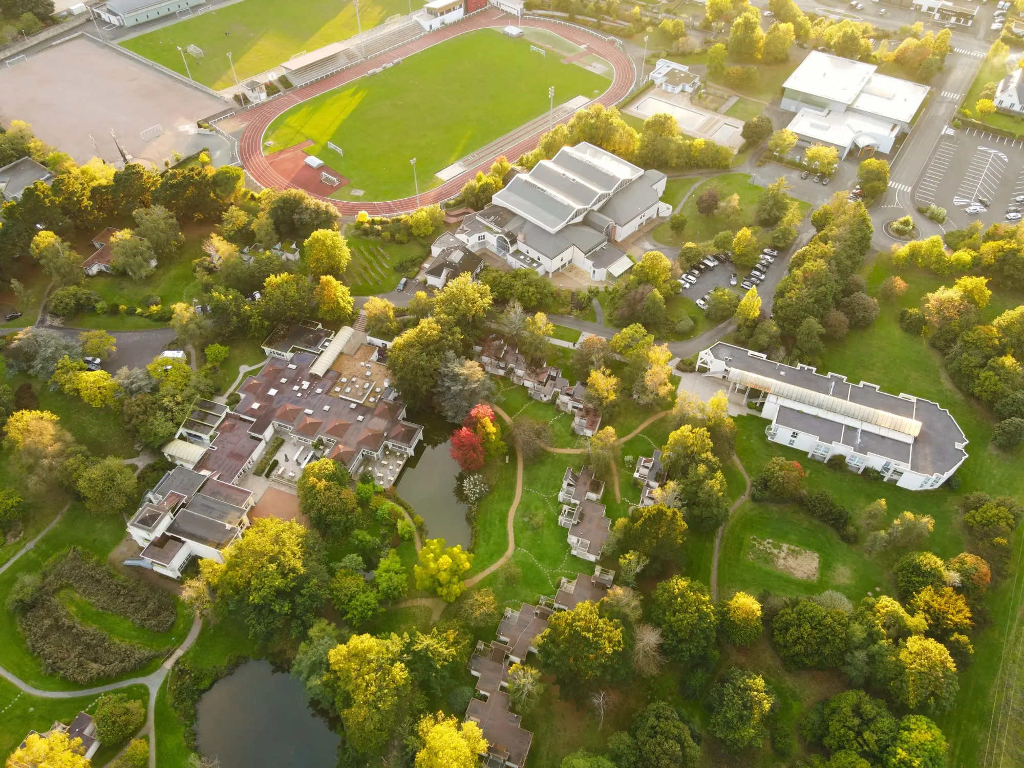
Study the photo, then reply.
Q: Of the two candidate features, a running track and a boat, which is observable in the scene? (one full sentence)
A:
Looking from above, you can make out a running track.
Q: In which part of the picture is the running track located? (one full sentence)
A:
The running track is in the top part of the image.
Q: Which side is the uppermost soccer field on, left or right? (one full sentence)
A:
You can find the uppermost soccer field on the left side of the picture.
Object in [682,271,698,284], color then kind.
white vehicle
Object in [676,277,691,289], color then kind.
white vehicle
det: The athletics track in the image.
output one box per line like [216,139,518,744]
[210,9,634,216]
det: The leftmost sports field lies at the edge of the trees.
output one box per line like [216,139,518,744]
[0,35,227,166]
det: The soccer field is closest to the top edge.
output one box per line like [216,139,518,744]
[117,0,435,91]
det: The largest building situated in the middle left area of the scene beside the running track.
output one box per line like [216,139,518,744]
[121,317,425,576]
